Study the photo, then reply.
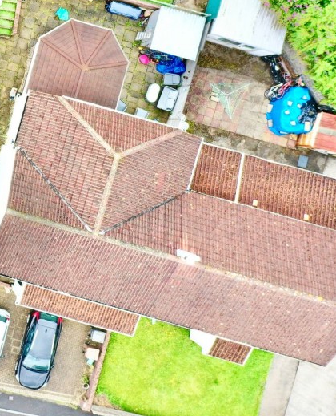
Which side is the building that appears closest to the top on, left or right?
right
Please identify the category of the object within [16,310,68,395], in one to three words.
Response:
car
